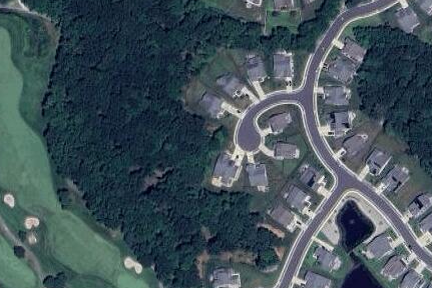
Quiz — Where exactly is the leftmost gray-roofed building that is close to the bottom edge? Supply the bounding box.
[208,265,238,288]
